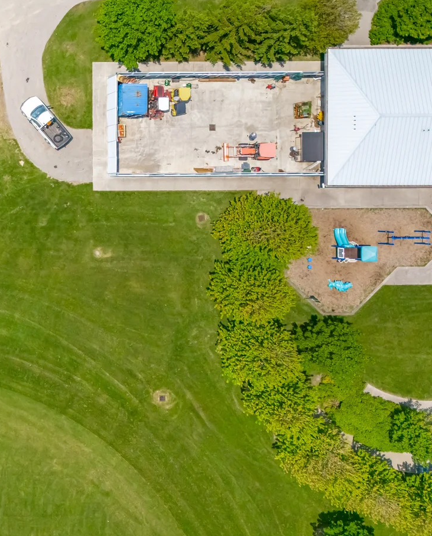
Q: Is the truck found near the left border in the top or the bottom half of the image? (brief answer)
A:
top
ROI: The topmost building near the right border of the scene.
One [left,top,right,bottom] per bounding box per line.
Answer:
[319,48,432,188]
